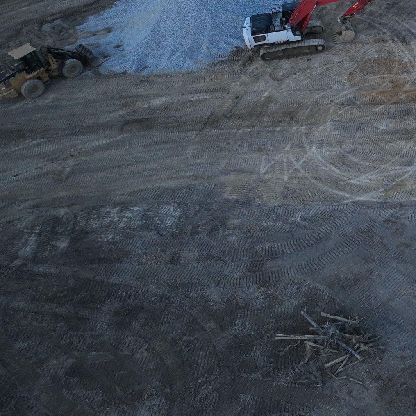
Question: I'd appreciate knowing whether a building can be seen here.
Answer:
No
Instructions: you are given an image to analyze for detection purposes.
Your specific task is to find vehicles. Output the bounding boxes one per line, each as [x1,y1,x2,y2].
[245,0,376,57]
[0,39,112,106]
